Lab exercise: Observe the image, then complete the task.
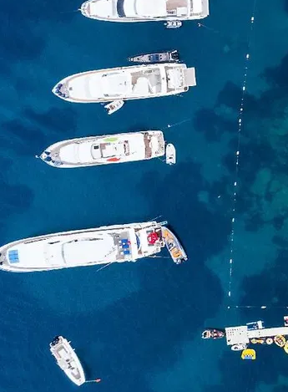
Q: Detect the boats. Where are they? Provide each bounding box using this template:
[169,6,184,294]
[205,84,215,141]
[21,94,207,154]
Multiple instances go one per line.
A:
[166,145,175,168]
[0,221,180,266]
[40,131,173,165]
[52,62,206,102]
[47,334,85,386]
[200,330,225,339]
[232,344,249,351]
[102,102,125,115]
[166,22,182,28]
[80,0,216,24]
[167,230,186,266]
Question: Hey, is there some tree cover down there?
No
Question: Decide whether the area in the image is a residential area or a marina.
marina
